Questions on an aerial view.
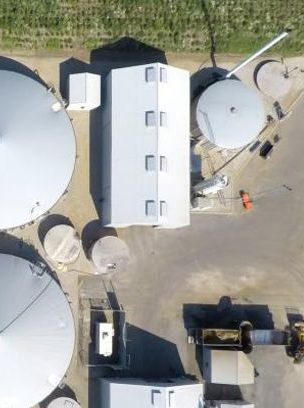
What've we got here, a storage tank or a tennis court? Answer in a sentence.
Of the two, only a storage tank appears.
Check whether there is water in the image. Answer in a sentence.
No, the scene doesn't show any water.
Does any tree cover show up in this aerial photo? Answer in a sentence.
No, the picture contains no tree cover.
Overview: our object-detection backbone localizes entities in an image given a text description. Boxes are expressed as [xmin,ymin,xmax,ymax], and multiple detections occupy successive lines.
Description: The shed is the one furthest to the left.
[66,71,101,107]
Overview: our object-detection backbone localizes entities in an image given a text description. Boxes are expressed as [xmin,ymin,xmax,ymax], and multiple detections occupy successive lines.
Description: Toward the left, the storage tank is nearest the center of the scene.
[87,236,129,277]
